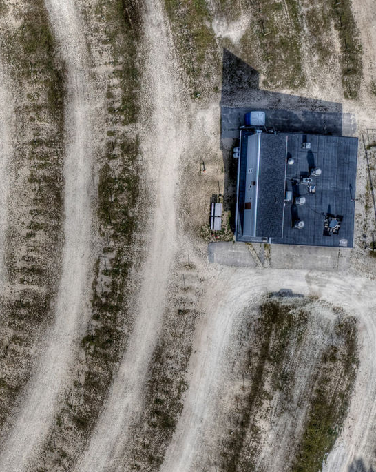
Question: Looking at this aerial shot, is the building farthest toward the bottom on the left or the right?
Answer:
right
